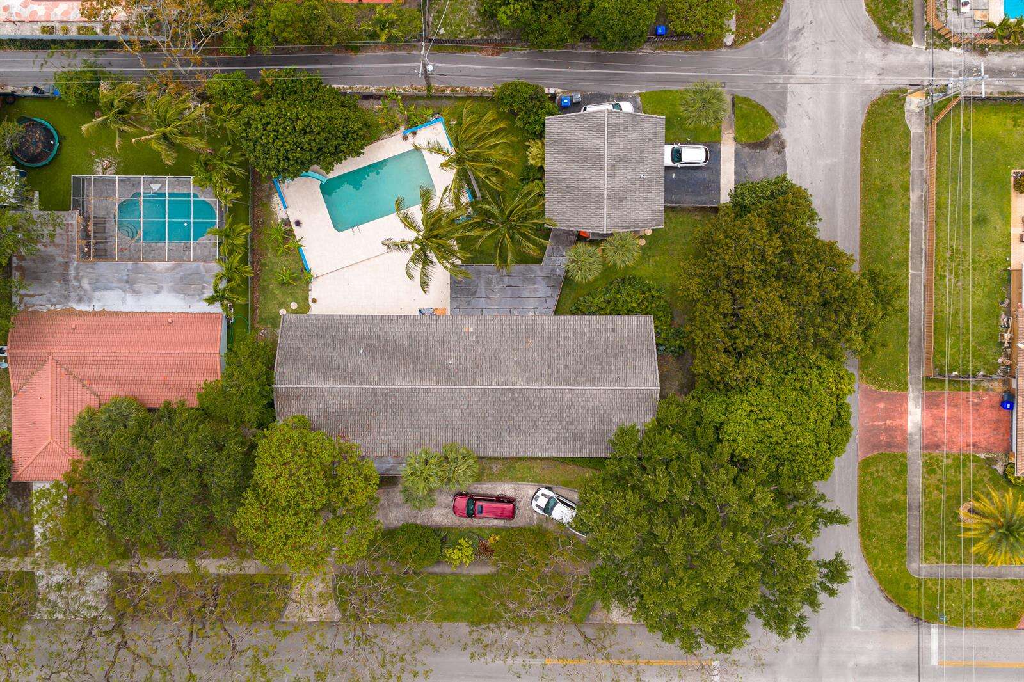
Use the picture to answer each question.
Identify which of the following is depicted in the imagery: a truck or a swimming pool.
swimming pool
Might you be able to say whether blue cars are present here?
No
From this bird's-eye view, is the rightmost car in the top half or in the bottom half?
top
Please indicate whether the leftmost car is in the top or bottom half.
bottom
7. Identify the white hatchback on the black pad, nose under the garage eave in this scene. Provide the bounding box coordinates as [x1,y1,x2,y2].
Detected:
[665,138,710,168]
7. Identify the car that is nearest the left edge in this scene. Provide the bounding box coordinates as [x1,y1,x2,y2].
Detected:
[453,491,516,522]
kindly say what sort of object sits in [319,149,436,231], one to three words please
swimming pool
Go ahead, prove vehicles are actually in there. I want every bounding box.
[453,491,516,522]
[665,138,710,168]
[530,491,589,536]
[579,93,636,109]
